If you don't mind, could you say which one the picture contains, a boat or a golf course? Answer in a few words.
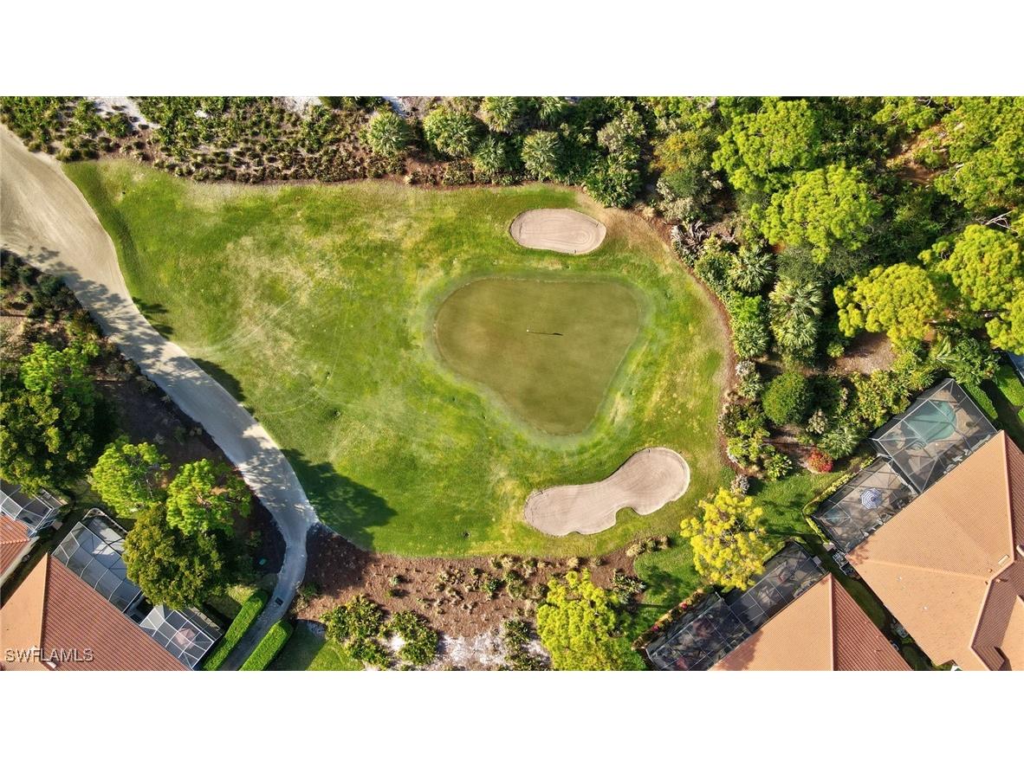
golf course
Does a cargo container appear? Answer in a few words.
No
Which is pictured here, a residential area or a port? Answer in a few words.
residential area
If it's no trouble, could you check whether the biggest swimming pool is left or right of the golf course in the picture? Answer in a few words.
on the right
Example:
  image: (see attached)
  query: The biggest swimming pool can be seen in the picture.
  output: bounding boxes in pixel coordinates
[901,397,961,446]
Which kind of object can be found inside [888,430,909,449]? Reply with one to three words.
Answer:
swimming pool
